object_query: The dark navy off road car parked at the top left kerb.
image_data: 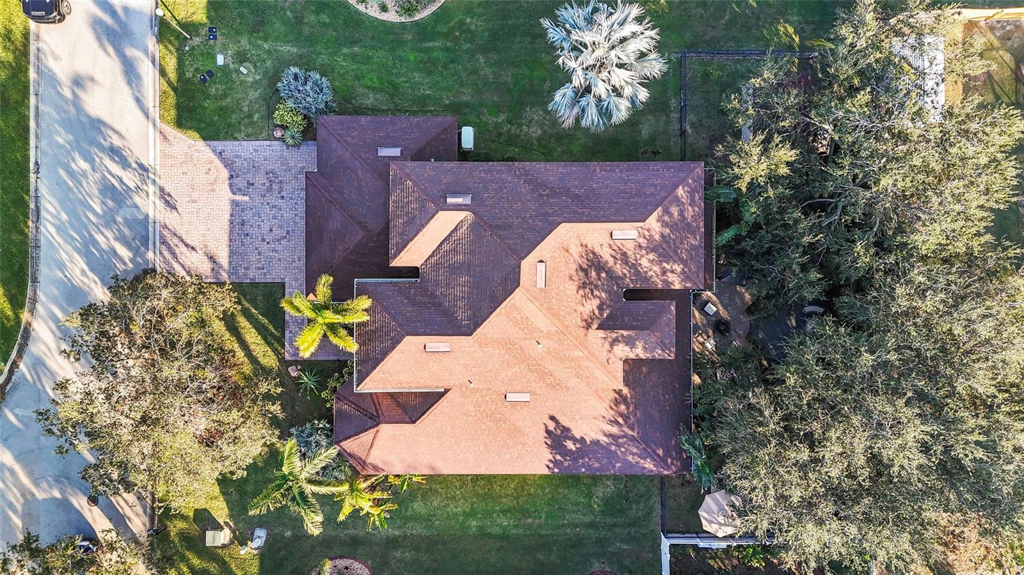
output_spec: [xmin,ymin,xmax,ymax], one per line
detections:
[23,0,76,24]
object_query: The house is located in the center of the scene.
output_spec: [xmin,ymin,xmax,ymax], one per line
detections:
[303,114,719,477]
